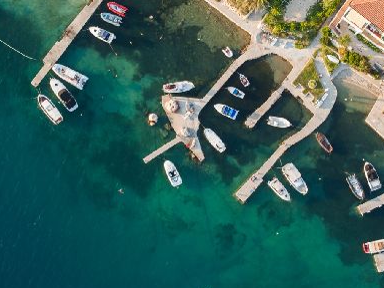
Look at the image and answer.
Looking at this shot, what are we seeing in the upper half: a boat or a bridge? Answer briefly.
boat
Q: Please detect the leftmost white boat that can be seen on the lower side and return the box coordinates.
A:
[162,157,183,190]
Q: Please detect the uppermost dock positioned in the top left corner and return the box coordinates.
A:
[31,0,105,88]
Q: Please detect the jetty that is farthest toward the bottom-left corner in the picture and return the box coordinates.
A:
[142,136,182,165]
